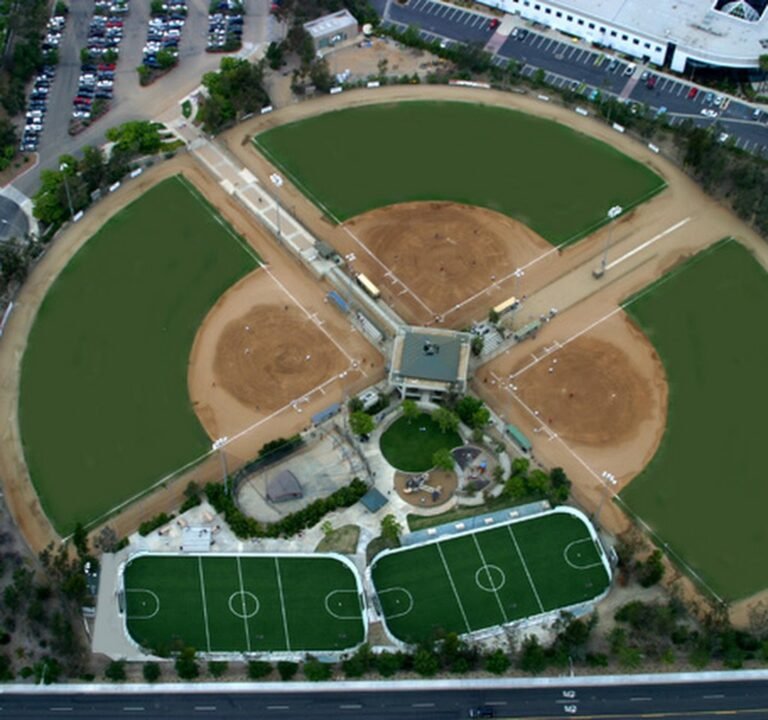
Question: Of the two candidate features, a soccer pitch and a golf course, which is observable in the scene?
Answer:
soccer pitch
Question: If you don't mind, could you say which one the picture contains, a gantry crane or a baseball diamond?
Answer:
baseball diamond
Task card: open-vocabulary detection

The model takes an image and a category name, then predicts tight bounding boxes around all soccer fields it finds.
[118,550,371,658]
[365,502,616,651]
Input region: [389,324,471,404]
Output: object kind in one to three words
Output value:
building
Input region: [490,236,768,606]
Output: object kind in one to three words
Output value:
baseball field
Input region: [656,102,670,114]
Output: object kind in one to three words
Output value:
vehicle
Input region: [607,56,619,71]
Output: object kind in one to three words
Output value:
vehicle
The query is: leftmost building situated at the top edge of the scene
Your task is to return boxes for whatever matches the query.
[304,8,358,52]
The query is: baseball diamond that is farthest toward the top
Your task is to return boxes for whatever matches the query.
[251,99,670,325]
